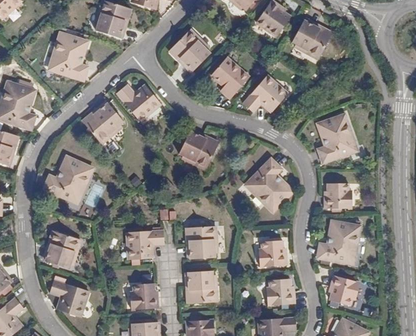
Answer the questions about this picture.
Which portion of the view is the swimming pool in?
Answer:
left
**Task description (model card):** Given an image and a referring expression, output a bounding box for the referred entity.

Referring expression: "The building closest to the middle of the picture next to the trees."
[184,134,220,170]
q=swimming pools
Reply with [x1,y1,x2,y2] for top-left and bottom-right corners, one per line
[83,181,107,210]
